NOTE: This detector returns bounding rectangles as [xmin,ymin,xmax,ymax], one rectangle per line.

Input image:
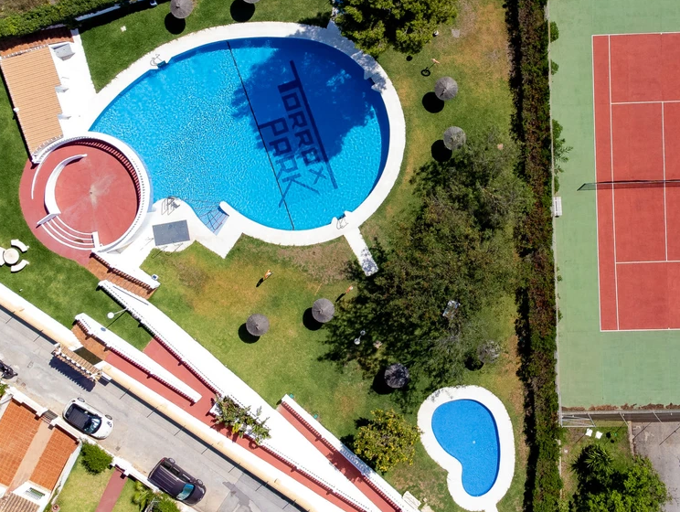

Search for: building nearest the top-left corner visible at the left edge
[0,28,86,156]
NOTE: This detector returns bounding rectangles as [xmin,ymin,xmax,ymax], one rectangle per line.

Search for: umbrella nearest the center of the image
[309,297,336,321]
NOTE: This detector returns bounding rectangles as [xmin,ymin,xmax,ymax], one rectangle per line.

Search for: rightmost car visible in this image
[149,461,205,503]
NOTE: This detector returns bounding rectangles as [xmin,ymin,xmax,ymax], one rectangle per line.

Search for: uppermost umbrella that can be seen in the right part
[433,76,457,102]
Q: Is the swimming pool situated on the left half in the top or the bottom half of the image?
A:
top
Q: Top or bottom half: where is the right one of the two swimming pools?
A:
bottom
